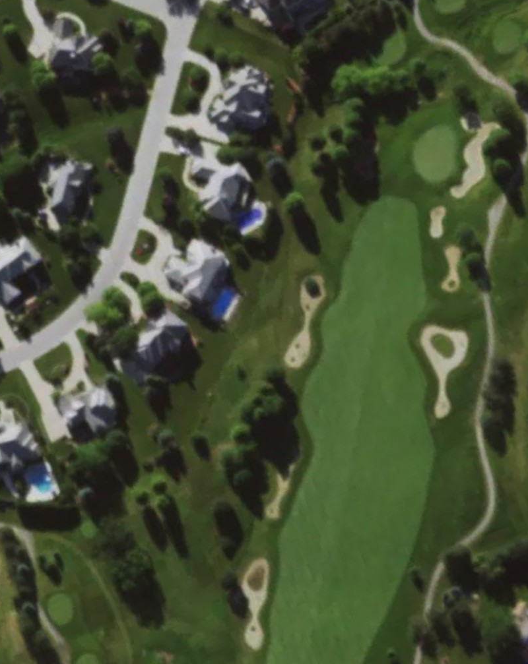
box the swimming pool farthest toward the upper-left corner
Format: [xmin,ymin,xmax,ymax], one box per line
[237,208,263,227]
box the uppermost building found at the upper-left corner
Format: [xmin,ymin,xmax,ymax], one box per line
[46,29,108,88]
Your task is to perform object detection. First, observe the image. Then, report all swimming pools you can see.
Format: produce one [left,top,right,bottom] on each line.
[26,463,52,493]
[210,288,237,319]
[237,208,263,227]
